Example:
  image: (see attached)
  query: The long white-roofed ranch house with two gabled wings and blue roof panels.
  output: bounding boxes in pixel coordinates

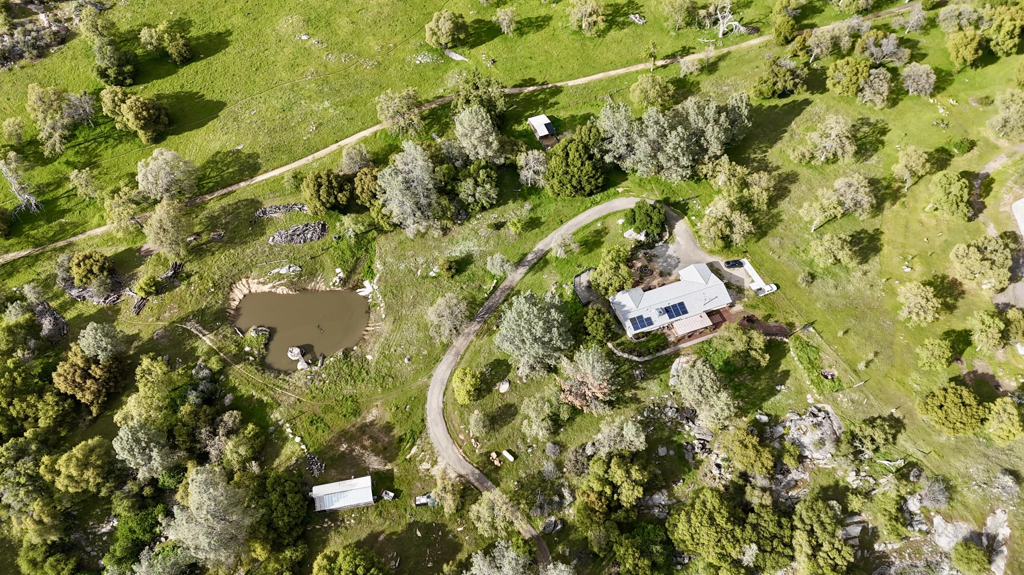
[611,264,733,340]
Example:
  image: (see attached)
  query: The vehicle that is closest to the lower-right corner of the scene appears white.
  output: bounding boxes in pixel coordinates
[754,285,778,298]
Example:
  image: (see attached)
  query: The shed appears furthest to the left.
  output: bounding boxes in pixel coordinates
[313,476,375,515]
